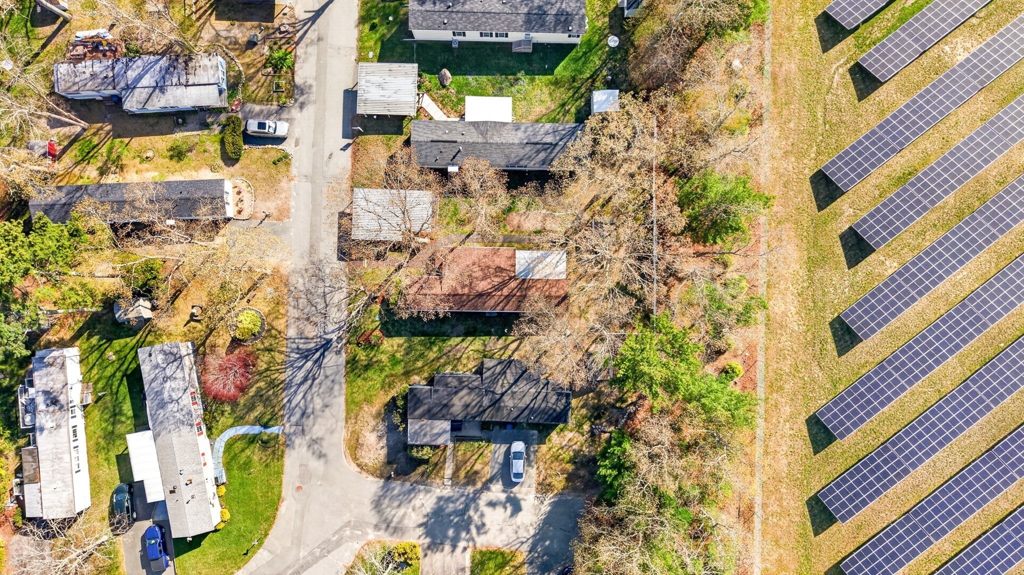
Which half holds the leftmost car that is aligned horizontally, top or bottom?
top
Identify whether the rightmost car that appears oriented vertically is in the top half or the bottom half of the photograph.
bottom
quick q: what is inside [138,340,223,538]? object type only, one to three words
house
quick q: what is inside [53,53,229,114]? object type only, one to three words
house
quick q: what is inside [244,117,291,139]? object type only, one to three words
car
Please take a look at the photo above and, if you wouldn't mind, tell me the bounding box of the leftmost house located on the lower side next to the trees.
[3,348,90,520]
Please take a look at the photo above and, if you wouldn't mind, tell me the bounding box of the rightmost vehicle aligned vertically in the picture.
[508,439,528,483]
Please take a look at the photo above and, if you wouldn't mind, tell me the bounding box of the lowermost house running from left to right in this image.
[407,357,572,445]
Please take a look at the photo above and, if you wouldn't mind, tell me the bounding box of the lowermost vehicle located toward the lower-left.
[142,524,170,573]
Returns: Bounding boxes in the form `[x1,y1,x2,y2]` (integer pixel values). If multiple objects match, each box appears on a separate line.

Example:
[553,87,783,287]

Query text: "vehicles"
[508,439,528,483]
[561,565,578,575]
[111,482,136,523]
[244,117,291,139]
[142,524,170,573]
